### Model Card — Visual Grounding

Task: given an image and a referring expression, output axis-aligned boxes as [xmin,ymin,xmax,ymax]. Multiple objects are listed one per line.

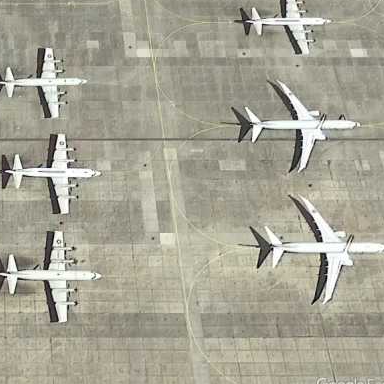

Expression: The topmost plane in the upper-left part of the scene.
[0,46,87,117]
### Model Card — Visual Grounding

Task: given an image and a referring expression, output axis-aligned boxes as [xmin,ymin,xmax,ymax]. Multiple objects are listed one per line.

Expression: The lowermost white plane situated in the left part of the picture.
[0,230,101,322]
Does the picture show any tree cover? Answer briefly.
No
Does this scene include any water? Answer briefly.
No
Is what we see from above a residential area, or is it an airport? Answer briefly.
airport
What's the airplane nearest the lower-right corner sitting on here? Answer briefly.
apron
